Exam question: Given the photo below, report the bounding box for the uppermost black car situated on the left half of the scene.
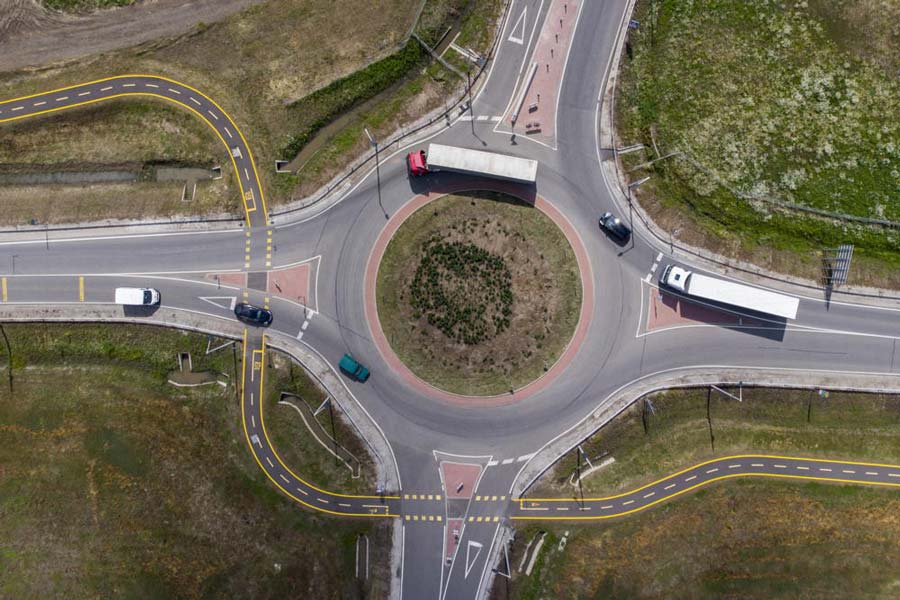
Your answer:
[236,305,273,325]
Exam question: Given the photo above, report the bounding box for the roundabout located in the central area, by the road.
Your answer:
[318,128,643,454]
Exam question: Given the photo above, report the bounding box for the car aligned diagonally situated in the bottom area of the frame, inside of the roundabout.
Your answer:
[339,353,369,380]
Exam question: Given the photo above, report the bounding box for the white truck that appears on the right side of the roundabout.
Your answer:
[657,264,801,319]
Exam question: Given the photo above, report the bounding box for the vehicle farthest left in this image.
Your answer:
[118,288,162,307]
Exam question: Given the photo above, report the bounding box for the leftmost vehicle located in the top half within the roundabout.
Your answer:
[404,143,540,184]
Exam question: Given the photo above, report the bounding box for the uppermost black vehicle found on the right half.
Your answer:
[598,213,630,244]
